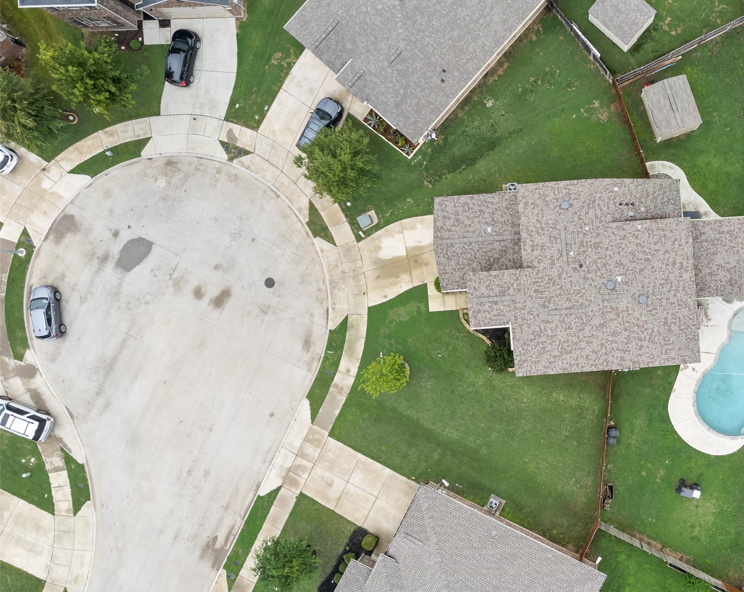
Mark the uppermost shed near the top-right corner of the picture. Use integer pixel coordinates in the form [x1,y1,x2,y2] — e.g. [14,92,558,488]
[589,0,656,52]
